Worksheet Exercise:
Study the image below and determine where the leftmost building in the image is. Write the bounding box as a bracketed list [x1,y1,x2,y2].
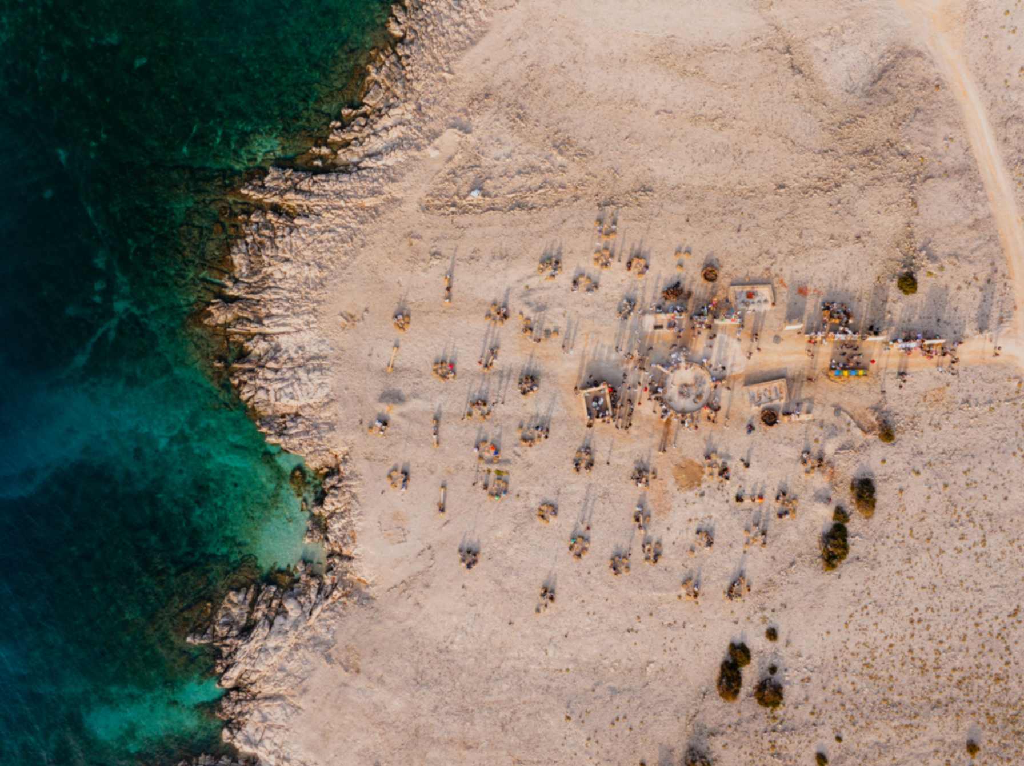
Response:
[581,382,614,422]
